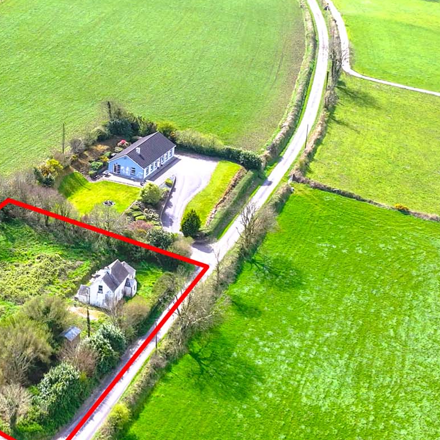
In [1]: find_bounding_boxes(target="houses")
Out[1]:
[78,257,143,309]
[109,133,174,181]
